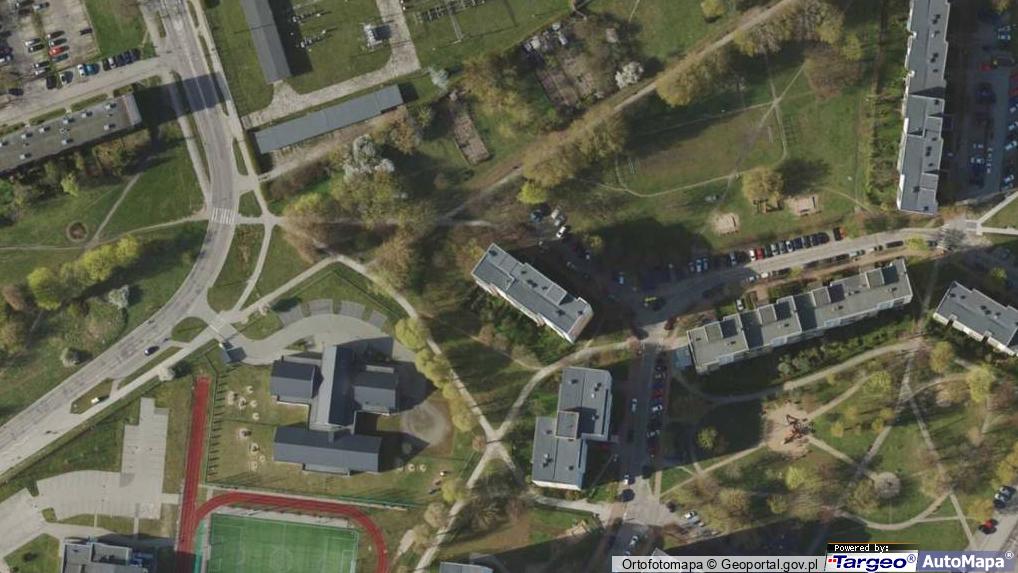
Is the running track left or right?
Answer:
left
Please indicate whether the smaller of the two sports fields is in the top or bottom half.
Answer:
top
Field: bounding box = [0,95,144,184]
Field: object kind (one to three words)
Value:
building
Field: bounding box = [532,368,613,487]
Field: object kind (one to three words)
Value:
building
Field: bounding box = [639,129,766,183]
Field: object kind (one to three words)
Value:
sports field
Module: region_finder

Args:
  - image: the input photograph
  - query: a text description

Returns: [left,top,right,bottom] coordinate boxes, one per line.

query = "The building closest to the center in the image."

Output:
[471,244,594,339]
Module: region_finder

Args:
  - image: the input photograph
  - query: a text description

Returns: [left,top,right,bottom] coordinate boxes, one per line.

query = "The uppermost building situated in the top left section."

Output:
[241,0,293,85]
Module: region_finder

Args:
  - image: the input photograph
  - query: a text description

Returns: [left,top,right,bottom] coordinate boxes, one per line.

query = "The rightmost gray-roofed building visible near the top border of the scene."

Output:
[893,0,949,219]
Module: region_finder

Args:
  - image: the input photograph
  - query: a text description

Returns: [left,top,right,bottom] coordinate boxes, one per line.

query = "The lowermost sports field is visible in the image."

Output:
[206,514,357,573]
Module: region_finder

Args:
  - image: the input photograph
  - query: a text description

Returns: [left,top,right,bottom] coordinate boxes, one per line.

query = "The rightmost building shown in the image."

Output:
[933,282,1018,353]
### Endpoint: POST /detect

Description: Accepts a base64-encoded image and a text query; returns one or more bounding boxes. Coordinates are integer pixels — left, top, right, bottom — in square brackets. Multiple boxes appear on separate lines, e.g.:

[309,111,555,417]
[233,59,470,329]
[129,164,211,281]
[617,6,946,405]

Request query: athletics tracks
[174,376,388,573]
